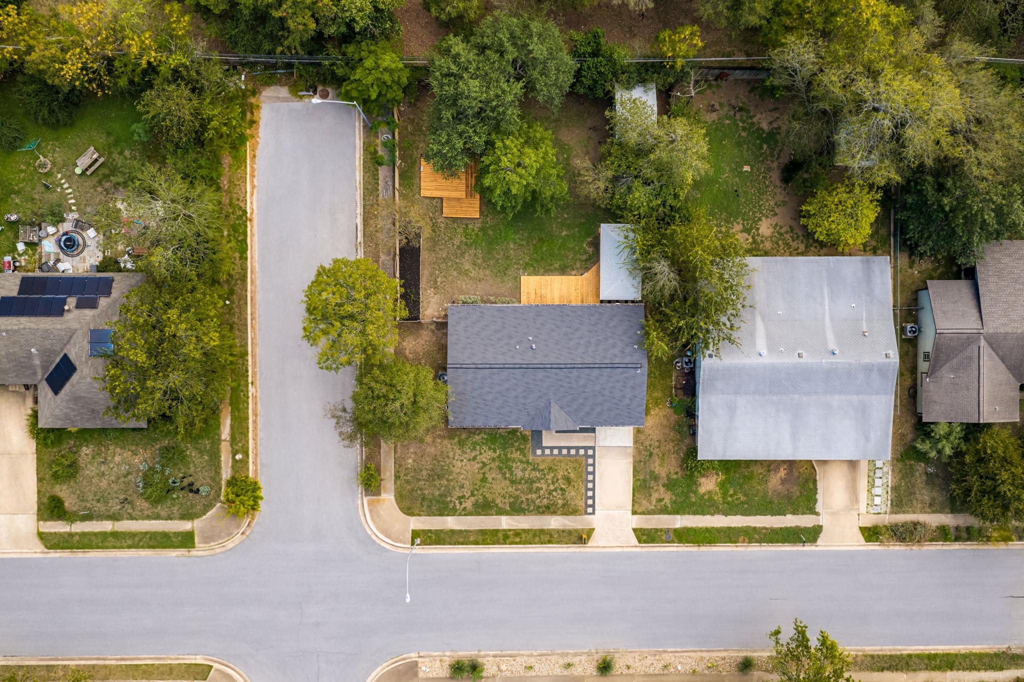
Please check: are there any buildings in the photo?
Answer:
Yes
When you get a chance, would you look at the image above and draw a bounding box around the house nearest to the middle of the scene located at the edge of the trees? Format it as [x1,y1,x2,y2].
[447,303,648,432]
